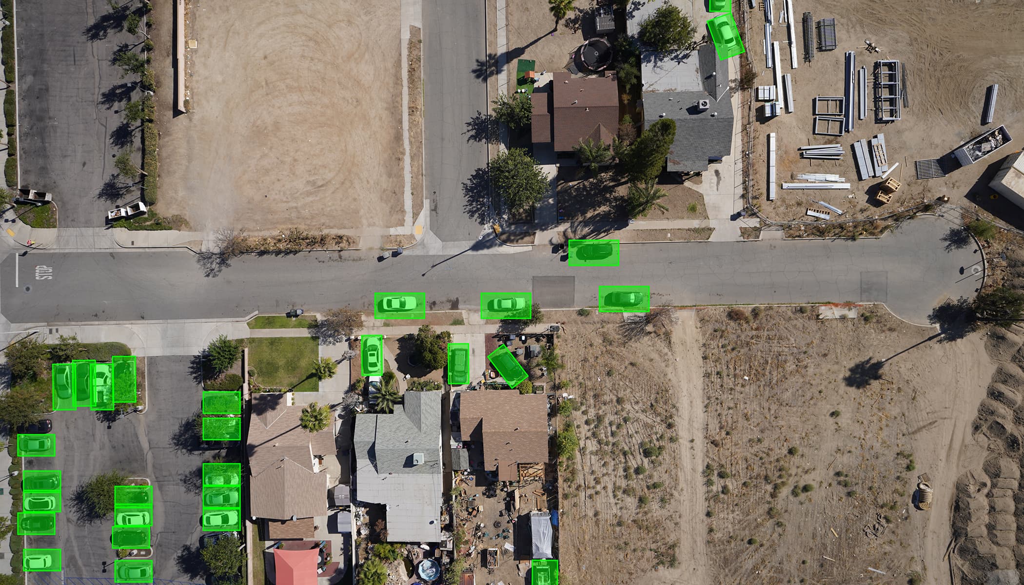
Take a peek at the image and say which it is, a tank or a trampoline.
trampoline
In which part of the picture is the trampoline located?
top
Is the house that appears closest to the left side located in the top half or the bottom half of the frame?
bottom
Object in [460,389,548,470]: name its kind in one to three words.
house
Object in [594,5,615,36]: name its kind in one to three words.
shed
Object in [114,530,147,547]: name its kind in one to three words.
car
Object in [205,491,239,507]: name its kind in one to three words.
car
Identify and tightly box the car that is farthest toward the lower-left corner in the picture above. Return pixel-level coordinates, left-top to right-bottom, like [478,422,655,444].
[24,554,55,570]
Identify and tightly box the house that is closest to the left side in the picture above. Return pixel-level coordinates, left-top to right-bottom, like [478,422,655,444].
[247,391,340,523]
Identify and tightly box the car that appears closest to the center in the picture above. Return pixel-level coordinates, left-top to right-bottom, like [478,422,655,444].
[493,296,526,310]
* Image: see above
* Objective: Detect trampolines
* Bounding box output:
[580,35,614,71]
